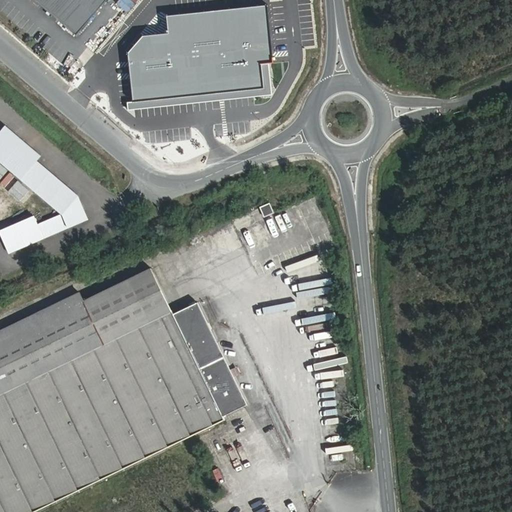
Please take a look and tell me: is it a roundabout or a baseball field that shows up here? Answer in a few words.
roundabout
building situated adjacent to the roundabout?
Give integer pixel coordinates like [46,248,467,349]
[127,6,272,110]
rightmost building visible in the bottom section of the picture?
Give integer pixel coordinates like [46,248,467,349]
[174,303,247,416]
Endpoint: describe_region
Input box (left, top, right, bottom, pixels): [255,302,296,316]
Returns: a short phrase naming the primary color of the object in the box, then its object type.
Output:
white vehicle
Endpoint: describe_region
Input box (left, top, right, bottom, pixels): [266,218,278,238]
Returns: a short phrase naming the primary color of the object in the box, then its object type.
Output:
white vehicle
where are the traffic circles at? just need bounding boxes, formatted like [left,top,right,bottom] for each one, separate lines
[306,76,388,158]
